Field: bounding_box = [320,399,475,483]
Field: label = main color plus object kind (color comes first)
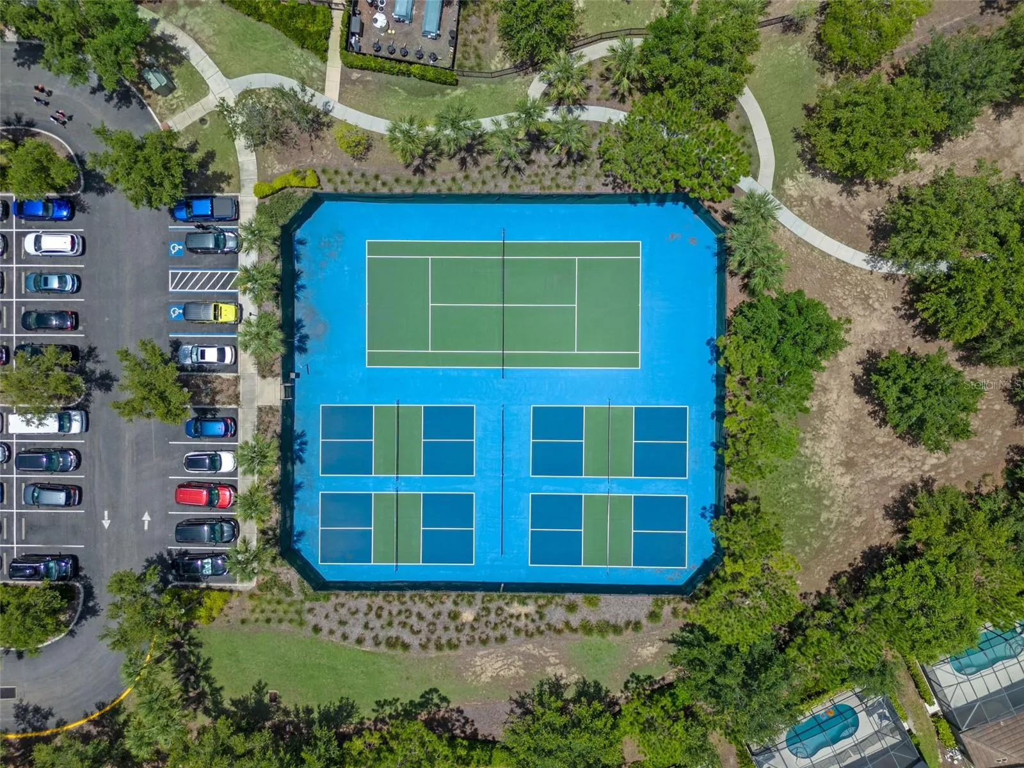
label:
blue sports court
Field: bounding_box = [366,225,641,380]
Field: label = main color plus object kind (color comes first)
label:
green tennis court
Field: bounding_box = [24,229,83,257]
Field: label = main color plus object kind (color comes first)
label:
white car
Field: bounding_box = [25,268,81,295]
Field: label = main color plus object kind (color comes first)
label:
blue car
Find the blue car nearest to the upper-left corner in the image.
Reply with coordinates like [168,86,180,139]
[16,196,77,223]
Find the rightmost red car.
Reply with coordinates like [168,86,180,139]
[175,482,239,510]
